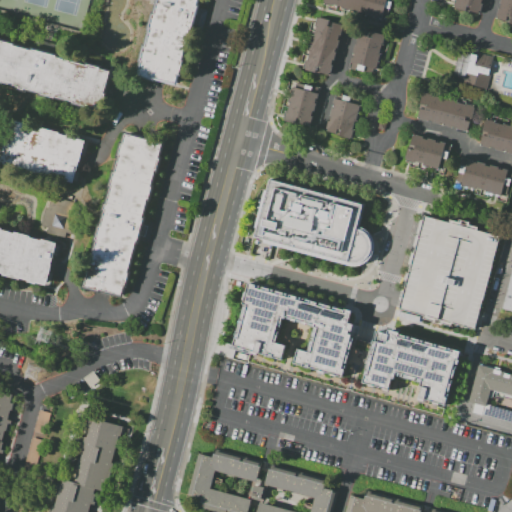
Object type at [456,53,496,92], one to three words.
building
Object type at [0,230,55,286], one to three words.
building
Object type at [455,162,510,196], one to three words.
house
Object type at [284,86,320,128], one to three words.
house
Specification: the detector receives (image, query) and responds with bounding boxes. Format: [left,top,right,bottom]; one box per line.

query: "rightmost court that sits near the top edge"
[46,0,91,30]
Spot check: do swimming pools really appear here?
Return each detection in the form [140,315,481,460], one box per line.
[491,61,512,98]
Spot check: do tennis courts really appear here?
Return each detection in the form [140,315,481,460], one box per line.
[46,0,91,30]
[0,0,50,20]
